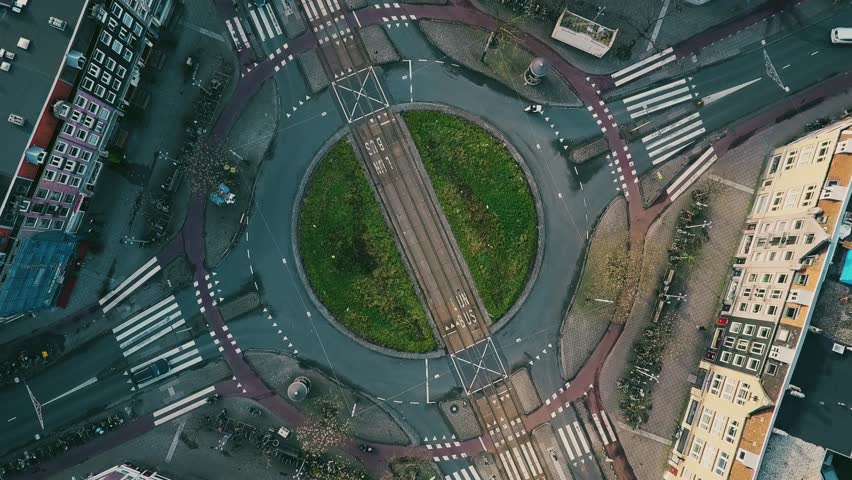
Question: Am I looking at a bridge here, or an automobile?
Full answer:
Of the two, only an automobile appears.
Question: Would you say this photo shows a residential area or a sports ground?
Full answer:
The picture captures a residential area.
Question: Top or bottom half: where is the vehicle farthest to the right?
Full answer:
The vehicle farthest to the right sits in the top half of the picture.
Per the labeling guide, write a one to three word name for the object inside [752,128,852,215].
house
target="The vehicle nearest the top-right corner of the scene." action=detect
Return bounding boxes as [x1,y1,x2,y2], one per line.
[829,23,852,45]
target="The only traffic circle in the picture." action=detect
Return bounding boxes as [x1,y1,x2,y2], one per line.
[251,63,587,399]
